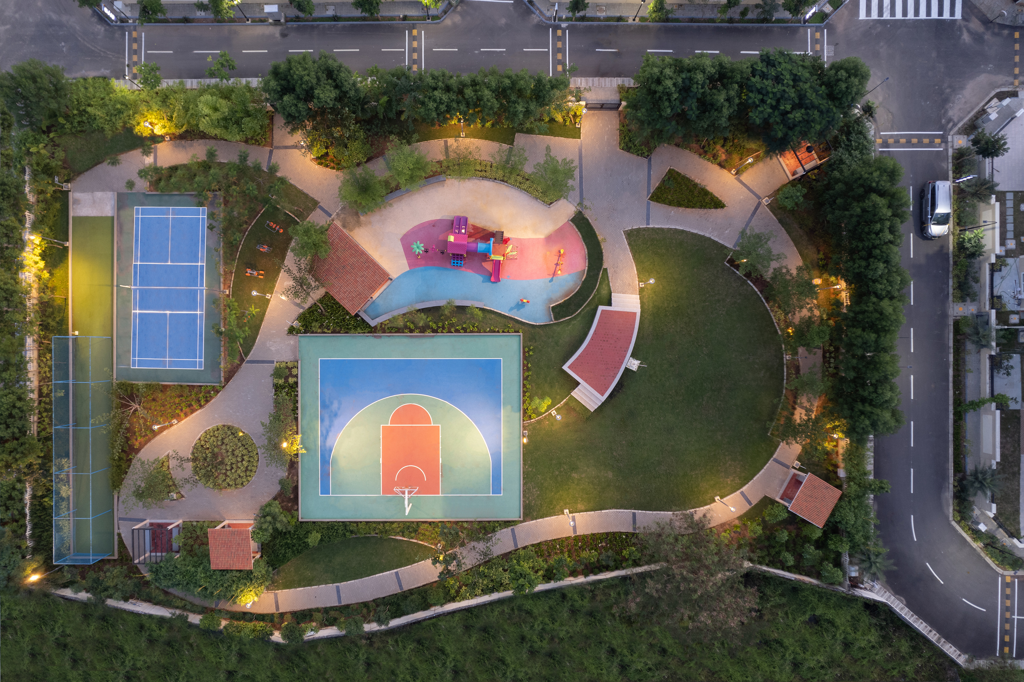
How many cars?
one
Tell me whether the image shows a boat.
No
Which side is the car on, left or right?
right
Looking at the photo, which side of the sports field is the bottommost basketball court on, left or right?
to the right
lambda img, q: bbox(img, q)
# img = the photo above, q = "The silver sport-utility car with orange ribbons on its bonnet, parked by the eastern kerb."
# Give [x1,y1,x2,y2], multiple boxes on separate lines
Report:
[921,180,955,240]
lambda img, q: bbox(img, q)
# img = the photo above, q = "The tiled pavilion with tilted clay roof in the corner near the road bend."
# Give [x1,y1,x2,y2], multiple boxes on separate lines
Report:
[774,467,842,529]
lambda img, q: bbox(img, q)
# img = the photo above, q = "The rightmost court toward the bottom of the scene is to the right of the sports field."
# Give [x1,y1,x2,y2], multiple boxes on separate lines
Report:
[298,334,523,521]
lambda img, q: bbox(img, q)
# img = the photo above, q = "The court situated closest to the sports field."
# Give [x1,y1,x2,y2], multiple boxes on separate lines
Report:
[118,192,225,385]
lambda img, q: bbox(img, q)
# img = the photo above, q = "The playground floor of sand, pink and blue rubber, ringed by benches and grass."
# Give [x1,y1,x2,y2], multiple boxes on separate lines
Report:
[332,177,585,322]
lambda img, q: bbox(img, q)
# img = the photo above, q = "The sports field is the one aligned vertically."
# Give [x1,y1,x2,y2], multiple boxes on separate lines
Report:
[68,191,120,559]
